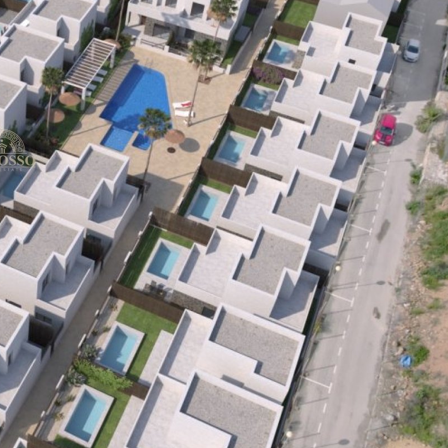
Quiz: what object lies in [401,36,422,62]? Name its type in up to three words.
car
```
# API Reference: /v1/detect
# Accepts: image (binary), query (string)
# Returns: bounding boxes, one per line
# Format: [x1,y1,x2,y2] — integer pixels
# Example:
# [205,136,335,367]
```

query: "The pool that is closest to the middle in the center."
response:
[185,186,225,226]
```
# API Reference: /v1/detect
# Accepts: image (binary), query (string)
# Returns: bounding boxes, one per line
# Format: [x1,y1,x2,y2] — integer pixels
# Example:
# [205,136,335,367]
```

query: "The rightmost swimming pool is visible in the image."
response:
[262,45,290,65]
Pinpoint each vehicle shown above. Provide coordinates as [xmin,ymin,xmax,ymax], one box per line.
[376,113,396,144]
[401,36,422,62]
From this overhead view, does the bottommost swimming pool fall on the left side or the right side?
left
